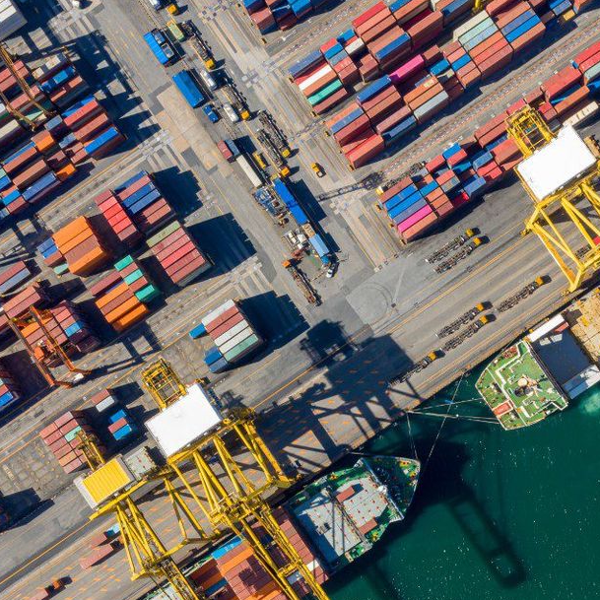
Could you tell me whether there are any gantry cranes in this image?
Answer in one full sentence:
Yes, you can see a gantry crane in this photo.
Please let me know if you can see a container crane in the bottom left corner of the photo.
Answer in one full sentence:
Yes, looking in the bottom left corner of the photo, one can make out a container crane.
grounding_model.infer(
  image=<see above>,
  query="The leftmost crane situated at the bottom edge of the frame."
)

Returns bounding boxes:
[59,415,225,600]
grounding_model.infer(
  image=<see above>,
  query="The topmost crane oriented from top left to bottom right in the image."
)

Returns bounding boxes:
[0,38,72,149]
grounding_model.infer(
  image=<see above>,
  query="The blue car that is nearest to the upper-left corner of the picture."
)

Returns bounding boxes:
[202,102,218,125]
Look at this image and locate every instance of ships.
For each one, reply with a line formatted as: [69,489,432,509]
[148,455,421,600]
[475,286,600,429]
